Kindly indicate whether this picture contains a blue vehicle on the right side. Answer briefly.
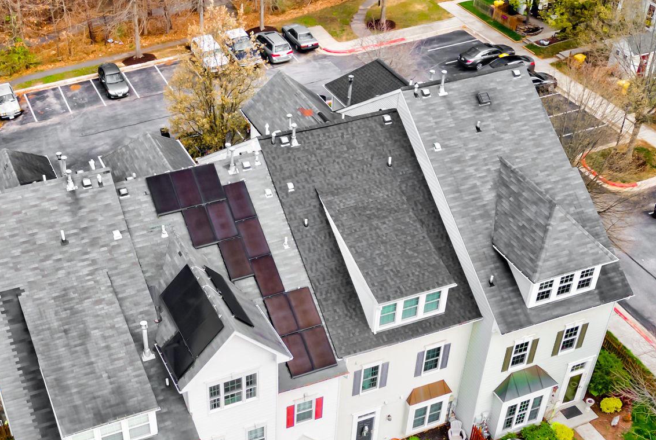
No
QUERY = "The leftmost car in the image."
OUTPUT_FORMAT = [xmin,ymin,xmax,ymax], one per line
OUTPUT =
[0,85,27,120]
